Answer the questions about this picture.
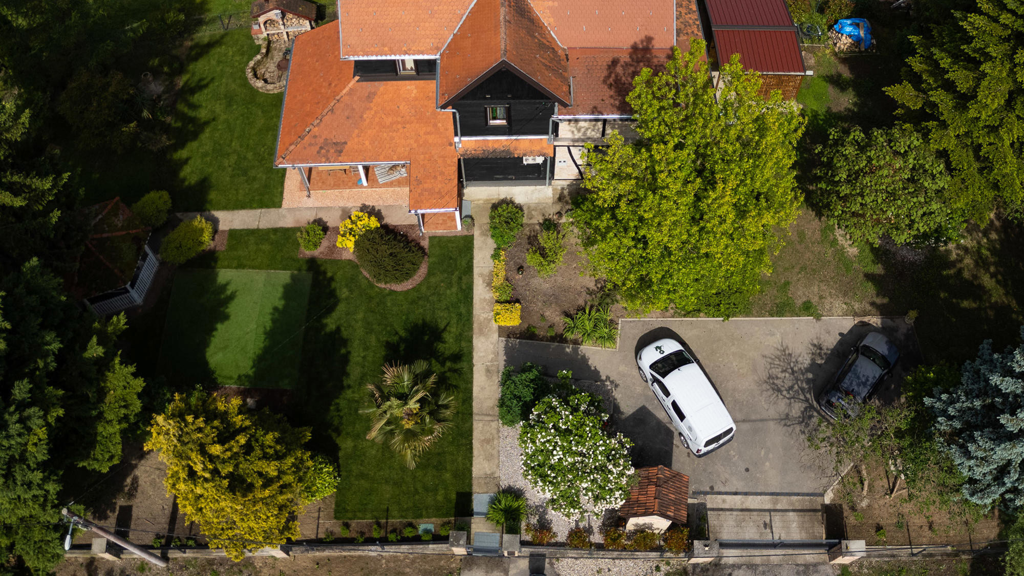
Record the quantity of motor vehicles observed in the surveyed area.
2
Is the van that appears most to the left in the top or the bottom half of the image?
bottom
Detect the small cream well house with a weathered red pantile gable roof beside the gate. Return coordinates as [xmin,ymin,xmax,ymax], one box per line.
[617,461,691,527]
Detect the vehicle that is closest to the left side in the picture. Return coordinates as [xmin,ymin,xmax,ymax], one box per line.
[637,338,742,459]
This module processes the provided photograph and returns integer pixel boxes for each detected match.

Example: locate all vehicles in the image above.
[813,328,905,429]
[637,338,742,459]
